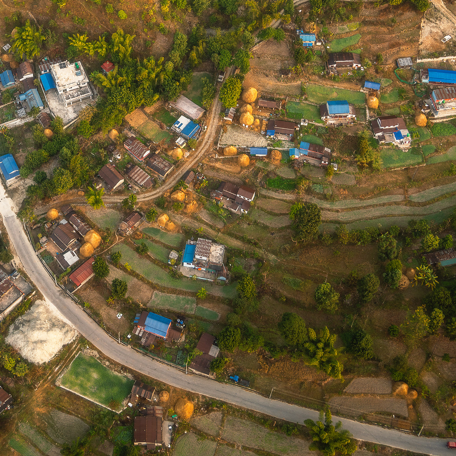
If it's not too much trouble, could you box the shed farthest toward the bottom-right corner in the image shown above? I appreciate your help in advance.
[421,247,456,268]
